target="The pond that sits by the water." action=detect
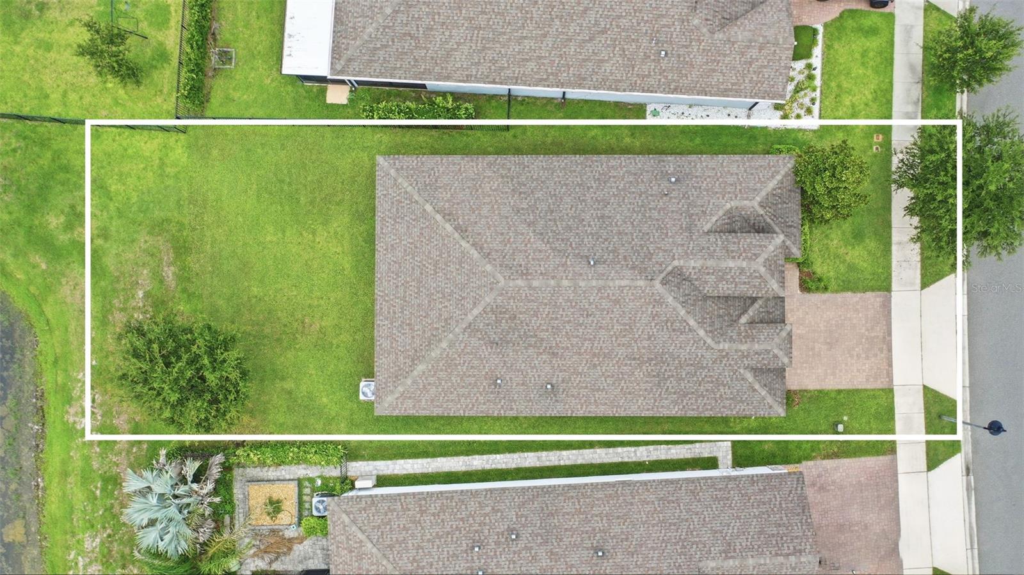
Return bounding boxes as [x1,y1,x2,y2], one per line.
[0,294,45,575]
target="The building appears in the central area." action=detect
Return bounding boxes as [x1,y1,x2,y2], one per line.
[375,155,801,416]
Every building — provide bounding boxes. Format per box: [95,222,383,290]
[327,465,821,575]
[375,155,801,416]
[330,0,799,116]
